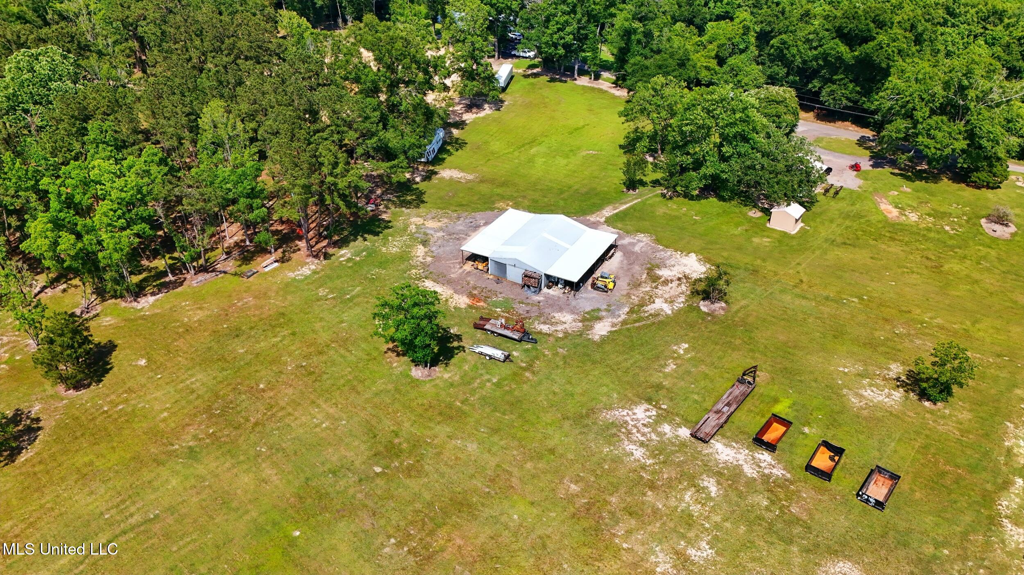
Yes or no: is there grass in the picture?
Yes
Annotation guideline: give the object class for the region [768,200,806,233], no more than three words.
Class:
shed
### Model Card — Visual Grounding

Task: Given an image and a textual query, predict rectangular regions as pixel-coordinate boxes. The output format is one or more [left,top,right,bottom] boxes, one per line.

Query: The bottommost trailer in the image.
[689,367,757,444]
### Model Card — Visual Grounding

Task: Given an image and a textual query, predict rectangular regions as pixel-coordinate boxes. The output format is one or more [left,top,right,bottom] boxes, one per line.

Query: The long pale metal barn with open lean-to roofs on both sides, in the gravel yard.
[461,208,617,297]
